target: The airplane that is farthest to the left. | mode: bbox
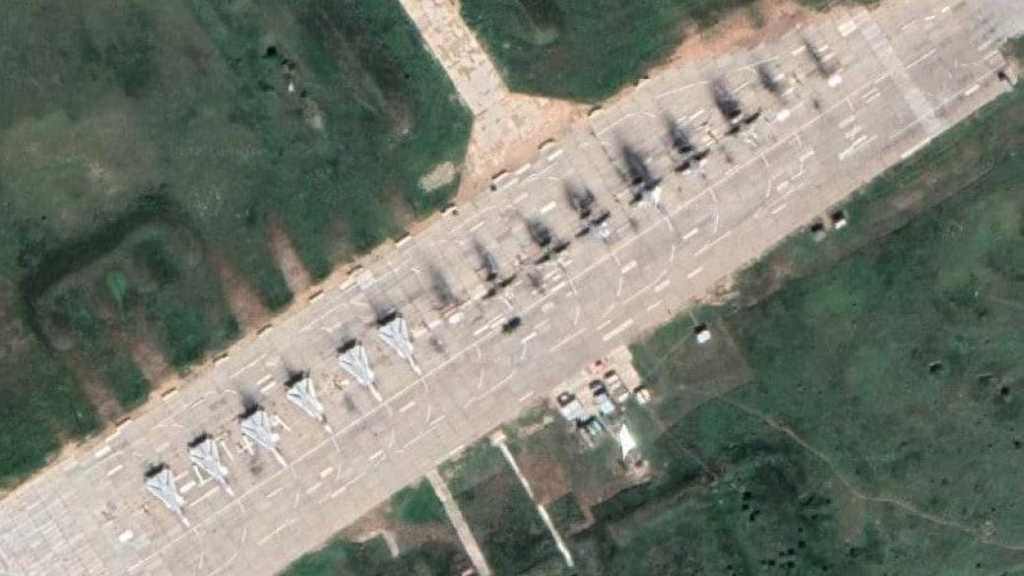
[144,468,190,529]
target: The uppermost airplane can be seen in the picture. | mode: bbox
[725,113,762,150]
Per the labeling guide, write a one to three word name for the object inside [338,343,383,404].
airplane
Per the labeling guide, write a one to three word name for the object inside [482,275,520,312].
airplane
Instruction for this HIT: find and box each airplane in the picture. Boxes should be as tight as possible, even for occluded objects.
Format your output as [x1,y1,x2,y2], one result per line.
[241,409,288,469]
[674,149,712,186]
[628,179,666,218]
[378,316,422,376]
[534,242,572,279]
[482,275,520,312]
[338,343,383,404]
[725,113,762,150]
[189,437,233,496]
[286,376,332,434]
[144,468,190,529]
[575,215,613,253]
